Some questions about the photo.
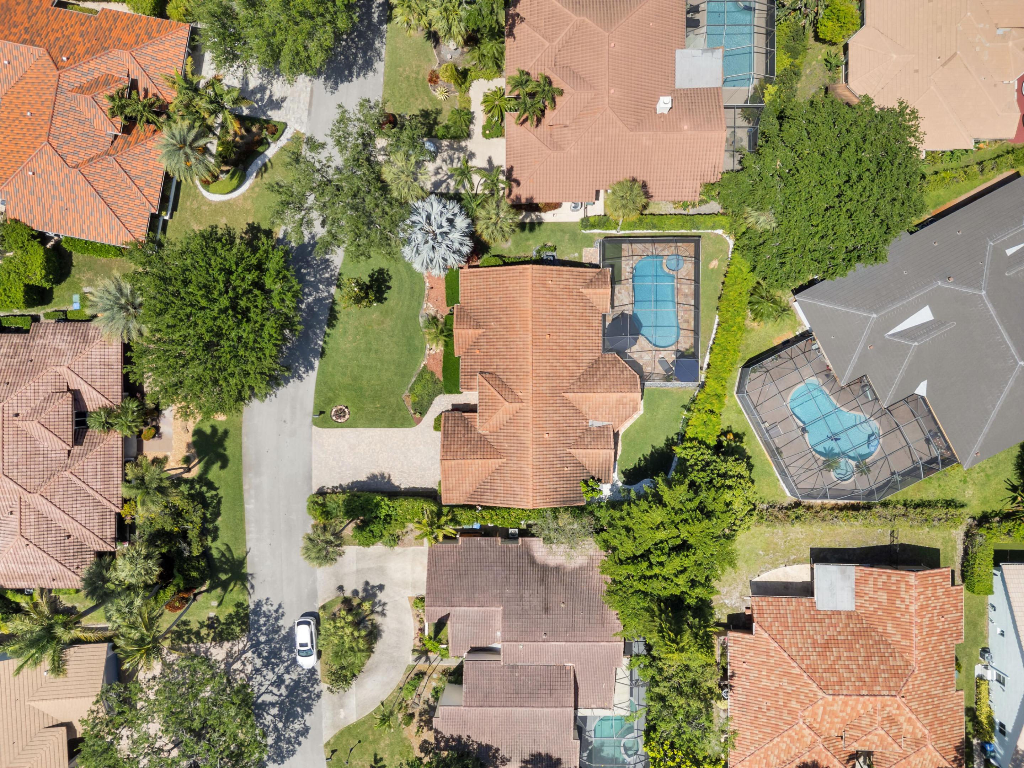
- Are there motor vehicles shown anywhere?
Yes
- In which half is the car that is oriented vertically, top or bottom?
bottom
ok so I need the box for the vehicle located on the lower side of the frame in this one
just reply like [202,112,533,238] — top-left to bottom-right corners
[295,615,320,668]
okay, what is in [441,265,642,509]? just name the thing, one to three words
house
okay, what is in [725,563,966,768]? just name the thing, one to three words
house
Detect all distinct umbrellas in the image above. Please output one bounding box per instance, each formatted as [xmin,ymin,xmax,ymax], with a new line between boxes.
[604,317,640,353]
[673,358,698,383]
